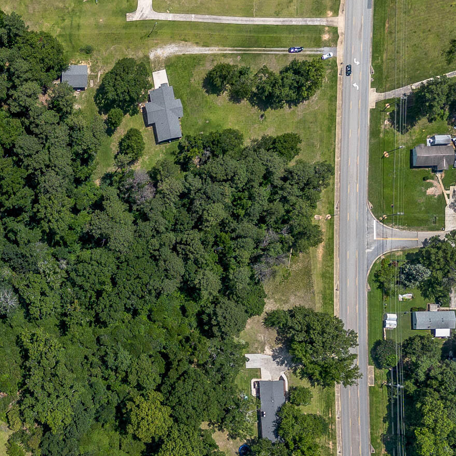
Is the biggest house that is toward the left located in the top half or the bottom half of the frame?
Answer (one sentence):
The biggest house that is toward the left is in the top half of the image.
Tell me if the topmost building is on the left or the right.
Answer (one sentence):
The topmost building appears in the left half of the scene.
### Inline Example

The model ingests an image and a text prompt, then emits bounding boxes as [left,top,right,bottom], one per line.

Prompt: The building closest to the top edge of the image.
[62,64,87,90]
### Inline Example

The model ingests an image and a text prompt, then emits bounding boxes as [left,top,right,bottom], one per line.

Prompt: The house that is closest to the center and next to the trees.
[144,83,184,144]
